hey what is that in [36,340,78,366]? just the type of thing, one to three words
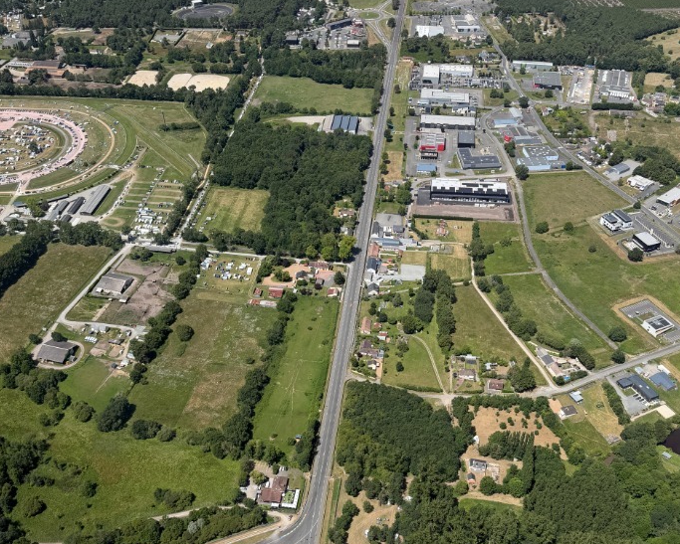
barn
